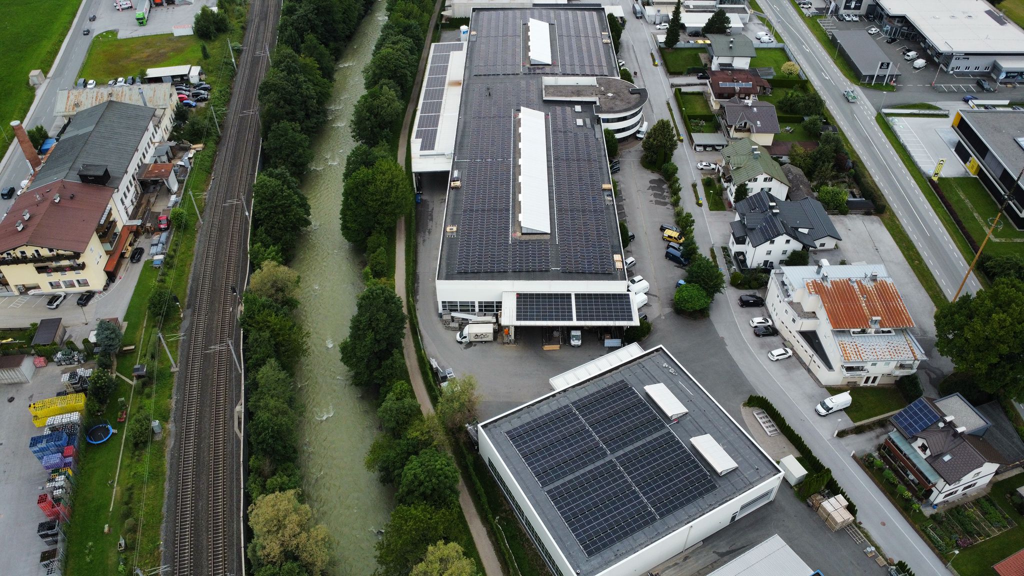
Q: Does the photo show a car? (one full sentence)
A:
Yes, a car appears in the view.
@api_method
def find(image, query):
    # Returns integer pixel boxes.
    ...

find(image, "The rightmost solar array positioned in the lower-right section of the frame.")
[895,401,946,445]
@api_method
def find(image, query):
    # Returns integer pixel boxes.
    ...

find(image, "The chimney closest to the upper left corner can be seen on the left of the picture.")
[7,115,45,172]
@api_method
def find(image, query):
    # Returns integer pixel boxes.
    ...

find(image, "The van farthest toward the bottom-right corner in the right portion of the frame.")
[816,387,855,415]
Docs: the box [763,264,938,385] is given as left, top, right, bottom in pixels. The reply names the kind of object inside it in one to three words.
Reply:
building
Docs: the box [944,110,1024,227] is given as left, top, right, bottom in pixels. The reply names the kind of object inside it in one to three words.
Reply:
building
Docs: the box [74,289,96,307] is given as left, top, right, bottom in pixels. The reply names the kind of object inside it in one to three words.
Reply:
car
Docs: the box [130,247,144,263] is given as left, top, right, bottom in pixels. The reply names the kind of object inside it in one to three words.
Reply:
car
